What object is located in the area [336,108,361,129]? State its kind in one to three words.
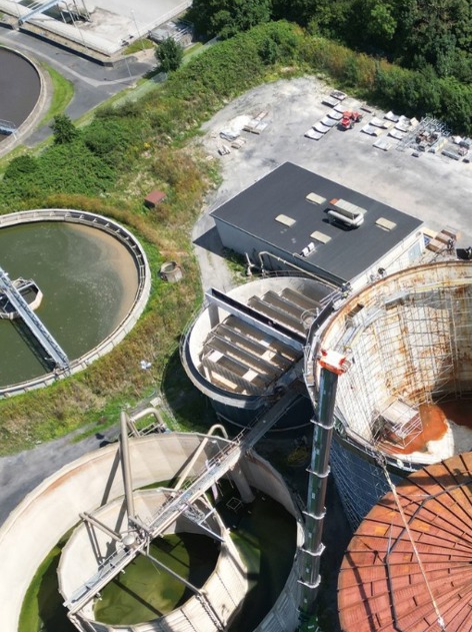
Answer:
vehicle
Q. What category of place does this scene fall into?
industrial area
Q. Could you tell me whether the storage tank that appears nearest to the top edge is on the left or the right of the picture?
left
